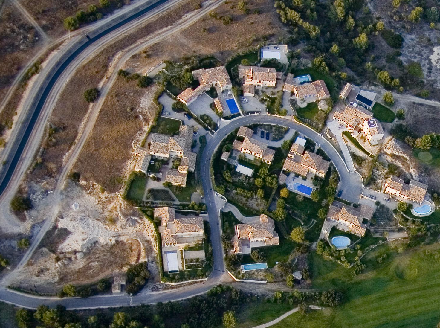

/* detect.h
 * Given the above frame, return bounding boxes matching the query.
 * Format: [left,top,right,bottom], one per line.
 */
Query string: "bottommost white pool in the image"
[163,250,181,274]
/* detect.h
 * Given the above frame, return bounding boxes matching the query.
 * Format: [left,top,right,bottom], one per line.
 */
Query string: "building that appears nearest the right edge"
[381,178,428,206]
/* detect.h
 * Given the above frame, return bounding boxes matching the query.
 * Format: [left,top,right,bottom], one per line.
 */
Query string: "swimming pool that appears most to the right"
[410,202,434,218]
